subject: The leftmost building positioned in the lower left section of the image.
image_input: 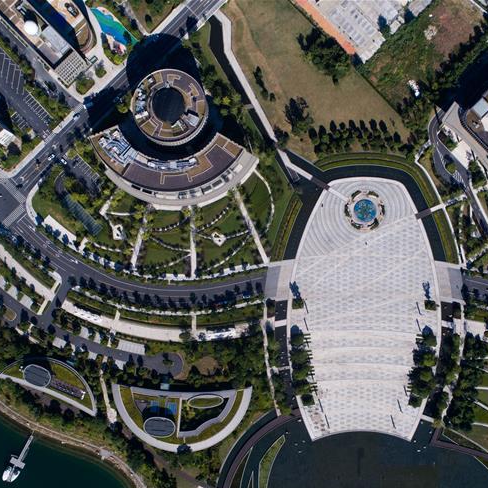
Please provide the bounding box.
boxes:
[0,356,99,416]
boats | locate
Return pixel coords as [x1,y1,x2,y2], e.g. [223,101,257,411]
[12,469,21,480]
[2,467,11,481]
